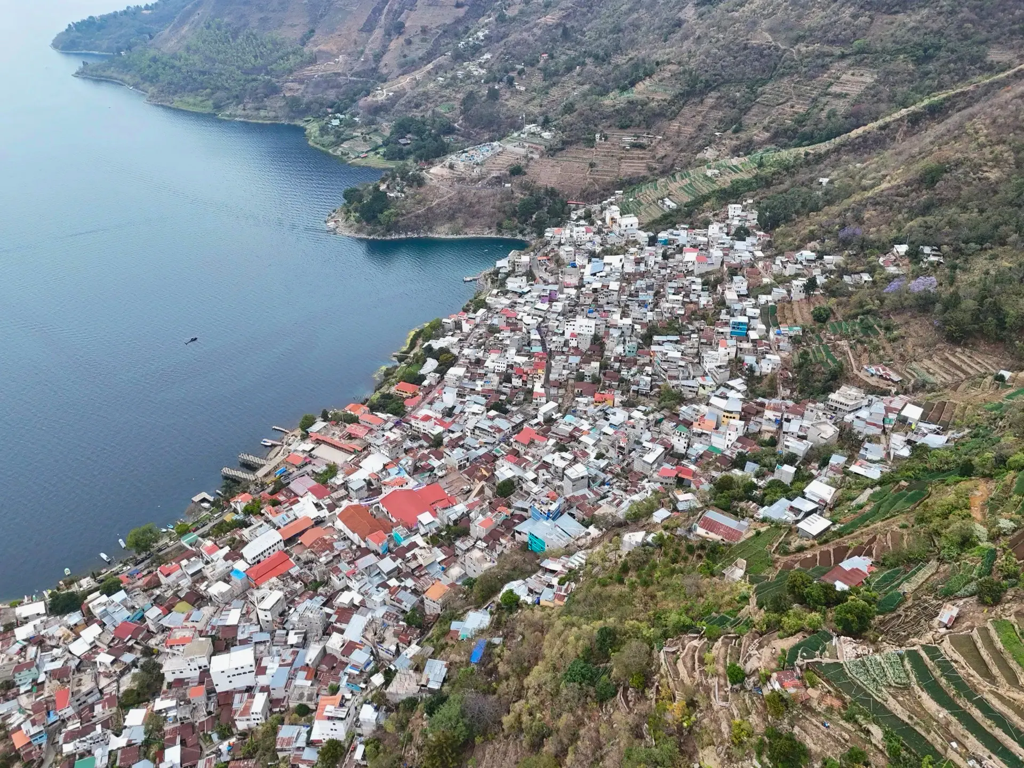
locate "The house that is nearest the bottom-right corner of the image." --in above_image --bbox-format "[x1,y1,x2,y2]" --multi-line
[932,600,964,632]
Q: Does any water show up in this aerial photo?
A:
Yes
